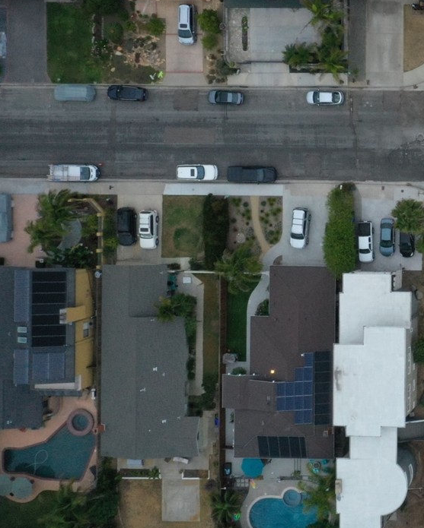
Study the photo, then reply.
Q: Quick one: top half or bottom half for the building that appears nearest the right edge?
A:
bottom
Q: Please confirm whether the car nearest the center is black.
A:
No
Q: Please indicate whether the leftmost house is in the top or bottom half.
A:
bottom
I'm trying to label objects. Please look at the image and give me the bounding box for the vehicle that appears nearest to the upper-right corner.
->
[308,89,344,106]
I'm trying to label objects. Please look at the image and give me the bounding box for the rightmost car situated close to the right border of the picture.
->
[398,229,416,260]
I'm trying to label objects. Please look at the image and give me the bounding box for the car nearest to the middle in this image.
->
[140,210,160,247]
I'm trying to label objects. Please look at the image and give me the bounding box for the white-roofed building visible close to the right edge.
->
[333,266,424,528]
